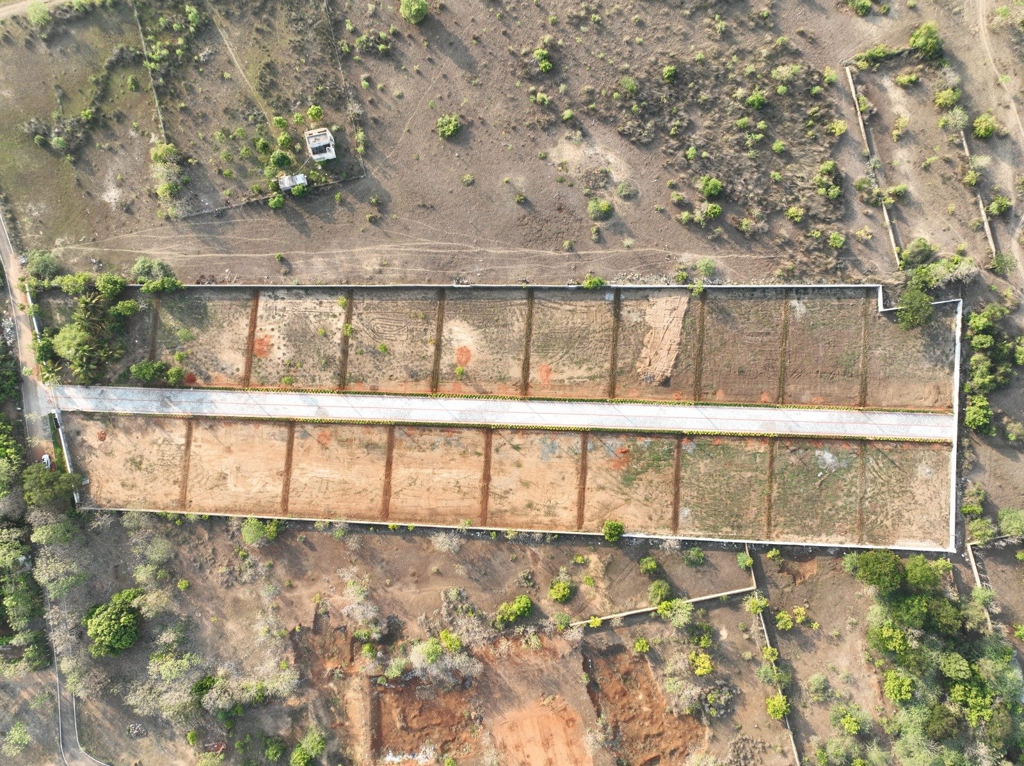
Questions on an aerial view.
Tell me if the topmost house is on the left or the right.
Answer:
left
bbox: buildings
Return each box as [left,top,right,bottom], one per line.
[278,173,309,192]
[305,125,337,162]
